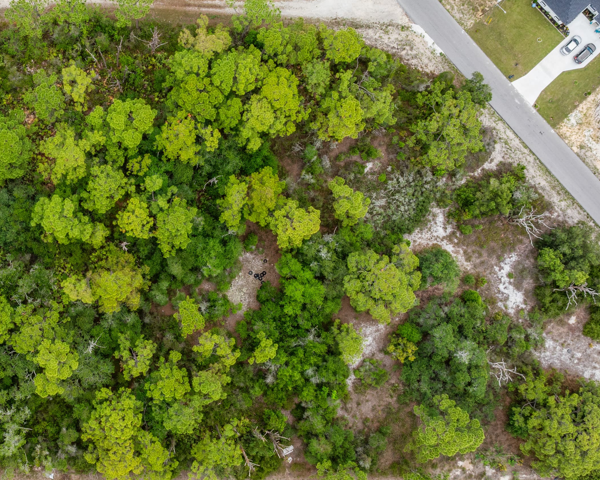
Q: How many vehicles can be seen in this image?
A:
2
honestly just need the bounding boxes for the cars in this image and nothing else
[562,35,583,55]
[575,42,597,64]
